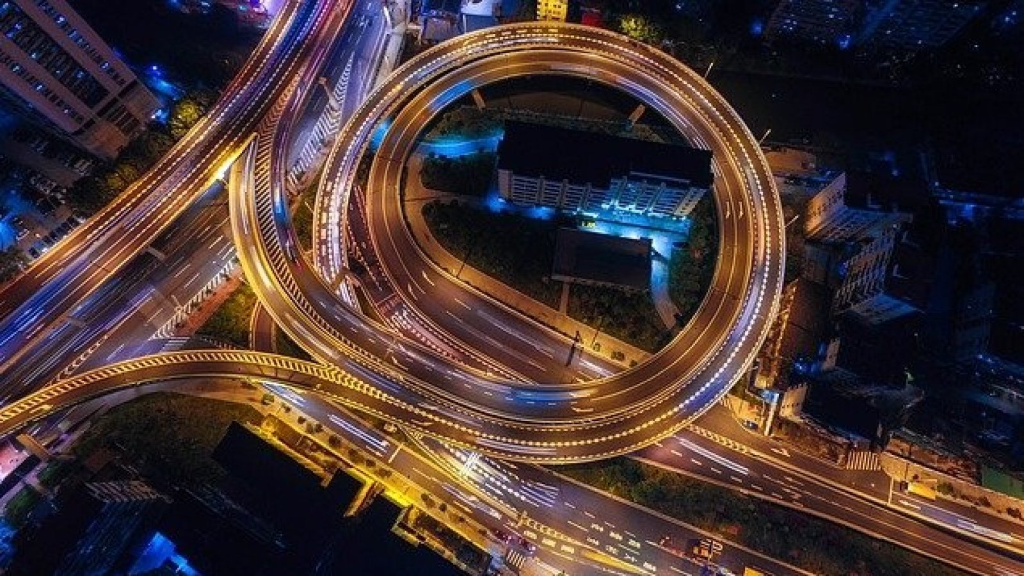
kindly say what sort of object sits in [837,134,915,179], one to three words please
house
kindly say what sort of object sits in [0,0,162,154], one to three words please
building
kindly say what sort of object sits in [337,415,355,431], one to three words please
car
